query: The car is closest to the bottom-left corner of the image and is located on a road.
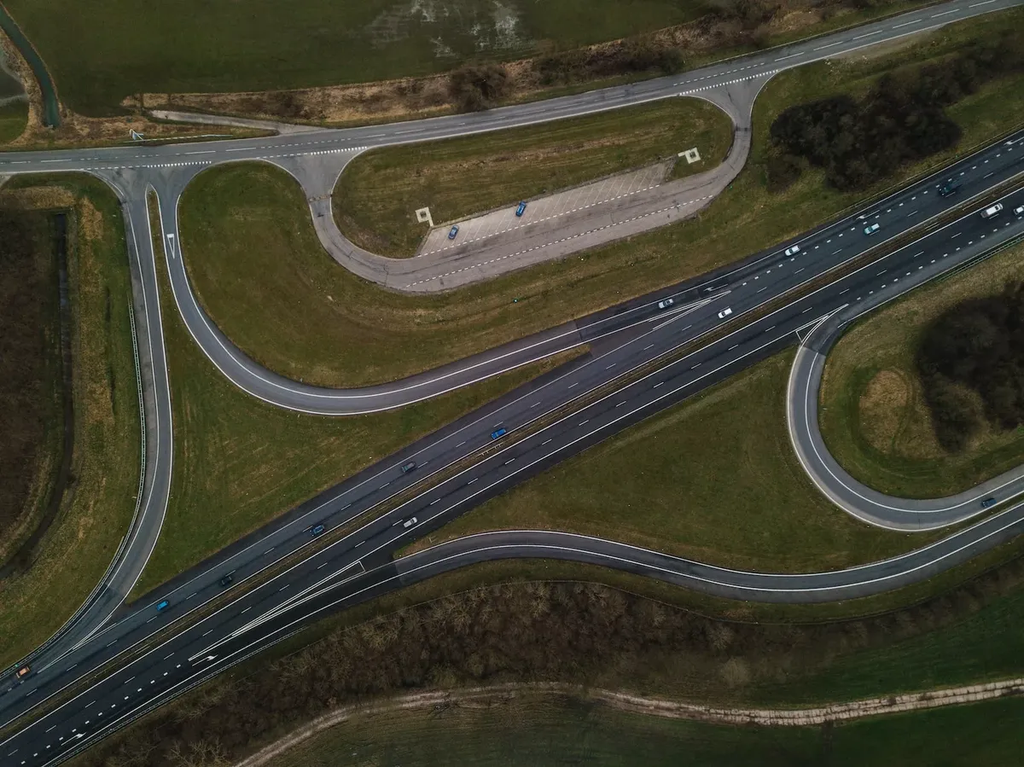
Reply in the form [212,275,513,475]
[13,667,29,679]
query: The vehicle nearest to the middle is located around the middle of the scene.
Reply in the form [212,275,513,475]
[491,428,507,440]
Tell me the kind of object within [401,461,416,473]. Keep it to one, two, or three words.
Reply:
vehicle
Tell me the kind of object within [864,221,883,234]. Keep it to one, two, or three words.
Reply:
vehicle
